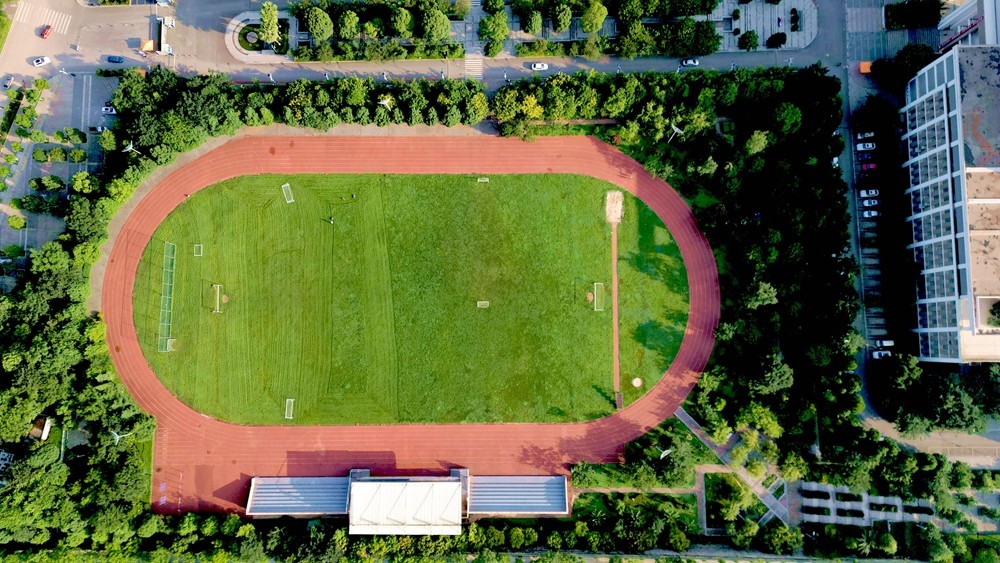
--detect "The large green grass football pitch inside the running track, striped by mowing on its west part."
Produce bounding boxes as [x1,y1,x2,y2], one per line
[133,175,690,425]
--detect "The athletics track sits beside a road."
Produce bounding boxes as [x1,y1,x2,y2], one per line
[102,138,721,519]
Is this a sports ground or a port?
sports ground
